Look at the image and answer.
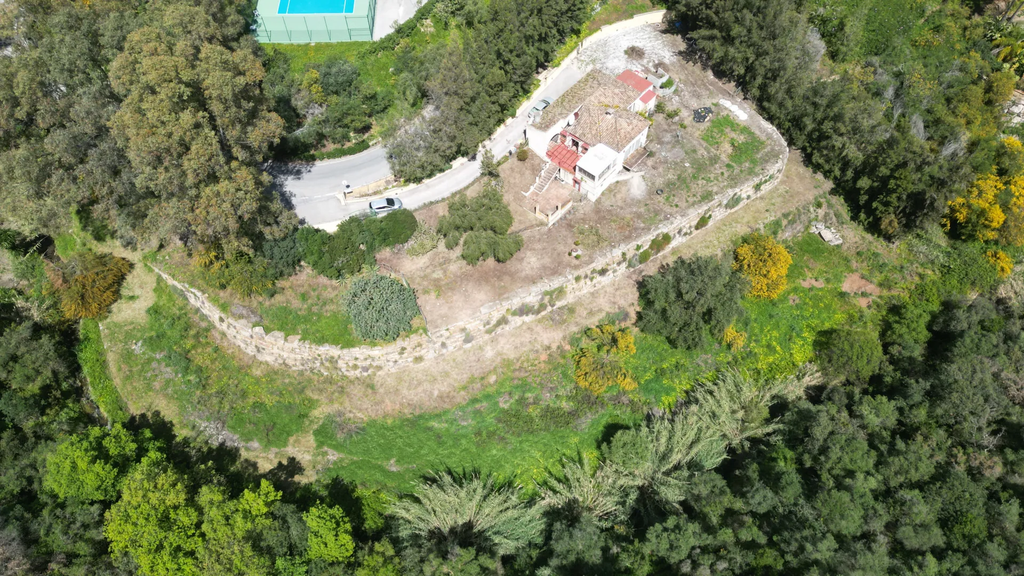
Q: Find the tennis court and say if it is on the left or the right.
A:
left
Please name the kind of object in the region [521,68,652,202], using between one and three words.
house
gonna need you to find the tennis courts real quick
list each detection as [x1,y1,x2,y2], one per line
[258,0,376,46]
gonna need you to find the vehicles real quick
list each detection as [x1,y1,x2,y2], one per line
[370,196,405,215]
[529,98,553,119]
